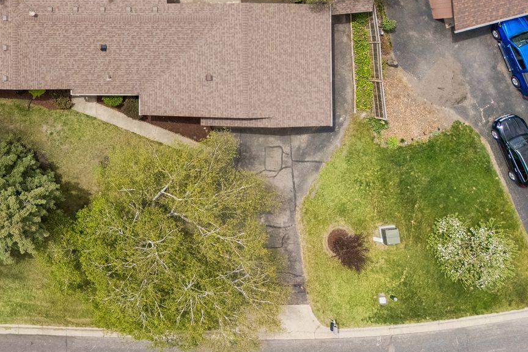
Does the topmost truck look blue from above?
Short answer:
Yes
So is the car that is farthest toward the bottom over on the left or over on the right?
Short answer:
right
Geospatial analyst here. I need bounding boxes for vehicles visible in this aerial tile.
[491,114,528,188]
[489,17,528,101]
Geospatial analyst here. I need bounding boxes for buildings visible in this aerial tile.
[332,0,375,16]
[0,0,331,127]
[423,0,528,33]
